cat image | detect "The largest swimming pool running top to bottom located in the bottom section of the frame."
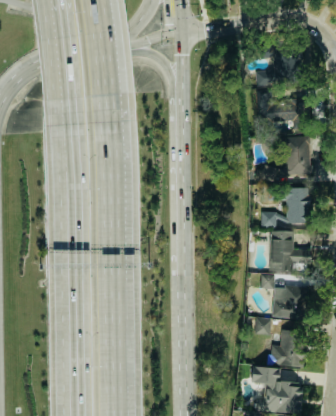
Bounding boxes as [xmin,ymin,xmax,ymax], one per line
[256,244,268,269]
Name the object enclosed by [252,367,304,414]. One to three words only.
house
